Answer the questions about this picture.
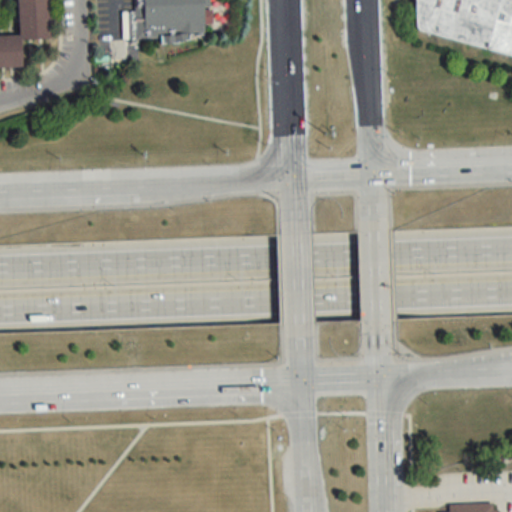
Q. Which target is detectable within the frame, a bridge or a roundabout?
bridge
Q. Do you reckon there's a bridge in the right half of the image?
Yes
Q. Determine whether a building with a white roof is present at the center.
No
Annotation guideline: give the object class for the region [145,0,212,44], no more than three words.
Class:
building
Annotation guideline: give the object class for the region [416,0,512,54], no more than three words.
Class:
building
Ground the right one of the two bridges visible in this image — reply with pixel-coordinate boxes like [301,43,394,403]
[358,228,397,324]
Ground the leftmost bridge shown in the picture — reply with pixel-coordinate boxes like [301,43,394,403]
[276,231,316,326]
